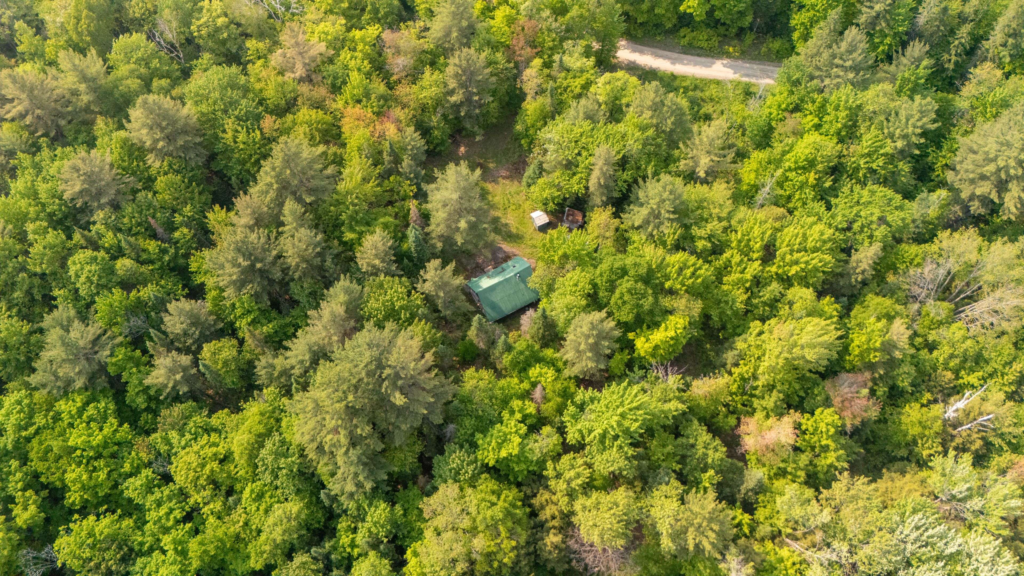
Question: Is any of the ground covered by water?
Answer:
No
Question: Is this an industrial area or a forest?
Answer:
forest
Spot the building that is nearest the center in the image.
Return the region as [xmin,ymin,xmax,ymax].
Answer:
[469,257,537,323]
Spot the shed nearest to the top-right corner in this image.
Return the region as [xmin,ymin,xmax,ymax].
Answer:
[562,208,584,230]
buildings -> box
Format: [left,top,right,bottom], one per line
[469,257,537,323]
[562,208,584,230]
[530,210,549,230]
